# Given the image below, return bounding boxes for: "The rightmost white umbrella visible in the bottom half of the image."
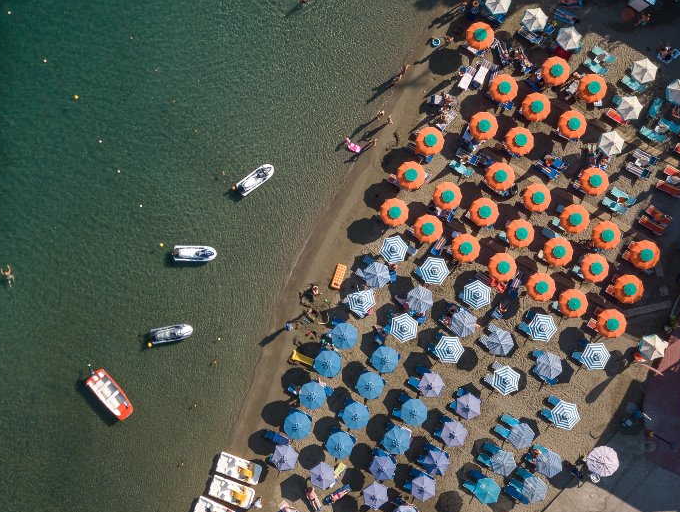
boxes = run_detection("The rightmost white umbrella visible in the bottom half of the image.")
[638,332,667,361]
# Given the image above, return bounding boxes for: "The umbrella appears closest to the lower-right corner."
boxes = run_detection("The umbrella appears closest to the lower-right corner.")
[586,443,620,478]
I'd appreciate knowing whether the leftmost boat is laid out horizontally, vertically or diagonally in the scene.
diagonally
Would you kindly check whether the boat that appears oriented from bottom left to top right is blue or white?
white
